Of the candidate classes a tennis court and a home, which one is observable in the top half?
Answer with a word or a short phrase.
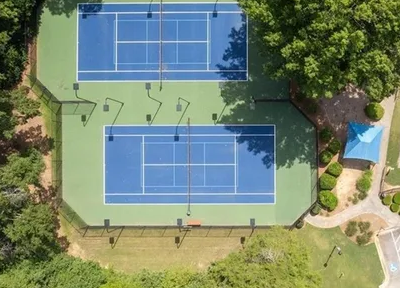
tennis court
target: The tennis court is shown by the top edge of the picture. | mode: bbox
[78,4,248,82]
